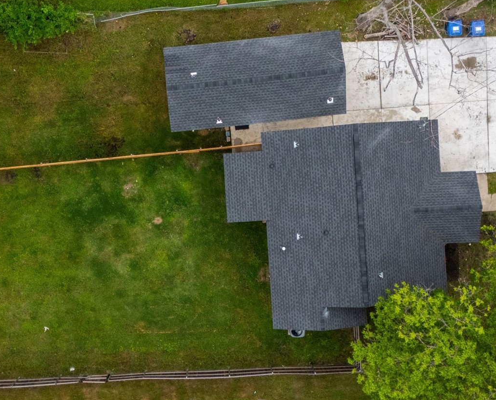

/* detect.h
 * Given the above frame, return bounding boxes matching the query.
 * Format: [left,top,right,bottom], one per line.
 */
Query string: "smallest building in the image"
[164,31,347,133]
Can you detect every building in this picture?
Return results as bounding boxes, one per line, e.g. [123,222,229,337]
[223,116,485,332]
[164,31,347,133]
